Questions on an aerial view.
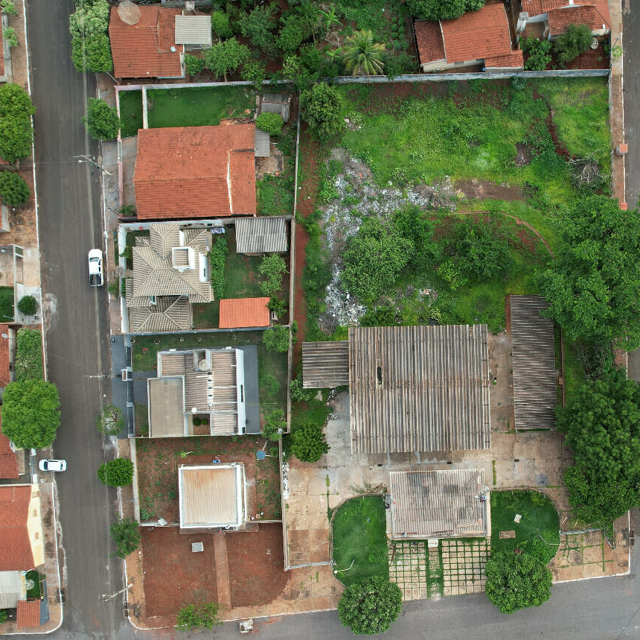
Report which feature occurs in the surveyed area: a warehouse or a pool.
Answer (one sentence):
There is a warehouse in the scene.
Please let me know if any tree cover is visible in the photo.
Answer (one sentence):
Yes, there's tree cover in this view.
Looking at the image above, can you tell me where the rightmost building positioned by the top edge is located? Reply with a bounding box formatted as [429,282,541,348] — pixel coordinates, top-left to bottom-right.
[522,0,611,42]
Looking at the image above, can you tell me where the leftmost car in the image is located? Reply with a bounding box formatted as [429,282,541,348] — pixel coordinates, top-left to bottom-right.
[40,457,67,472]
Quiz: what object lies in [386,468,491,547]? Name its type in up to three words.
building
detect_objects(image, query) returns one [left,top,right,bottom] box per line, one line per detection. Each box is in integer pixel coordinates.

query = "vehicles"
[88,249,105,285]
[40,457,67,472]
